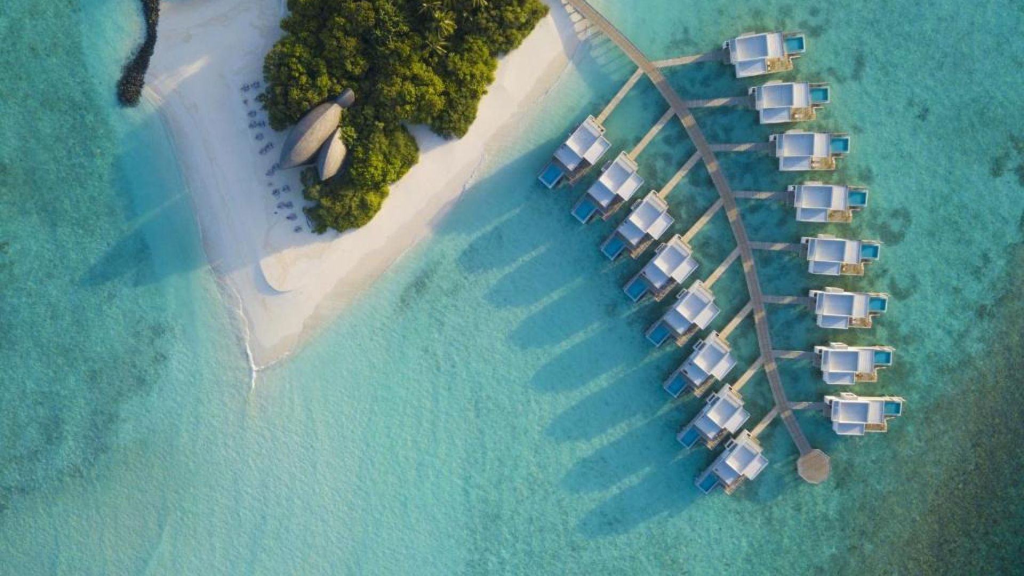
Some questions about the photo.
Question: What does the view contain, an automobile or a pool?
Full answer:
It is a pool that can be seen here.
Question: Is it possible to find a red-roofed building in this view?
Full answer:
No, I can't see a single red-roofed building in this photo.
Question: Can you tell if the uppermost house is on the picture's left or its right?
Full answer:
The uppermost house appears in the right half of the scene.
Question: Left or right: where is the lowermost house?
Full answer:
The lowermost house is on the right side of the image.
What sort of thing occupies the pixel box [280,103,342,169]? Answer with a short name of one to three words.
building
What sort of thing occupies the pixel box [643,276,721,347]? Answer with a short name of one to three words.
house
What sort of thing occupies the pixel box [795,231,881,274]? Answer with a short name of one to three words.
house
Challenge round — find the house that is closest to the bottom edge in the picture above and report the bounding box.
[691,425,770,496]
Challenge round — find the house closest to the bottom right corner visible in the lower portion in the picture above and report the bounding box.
[819,390,904,435]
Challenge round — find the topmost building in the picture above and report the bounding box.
[719,31,802,77]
